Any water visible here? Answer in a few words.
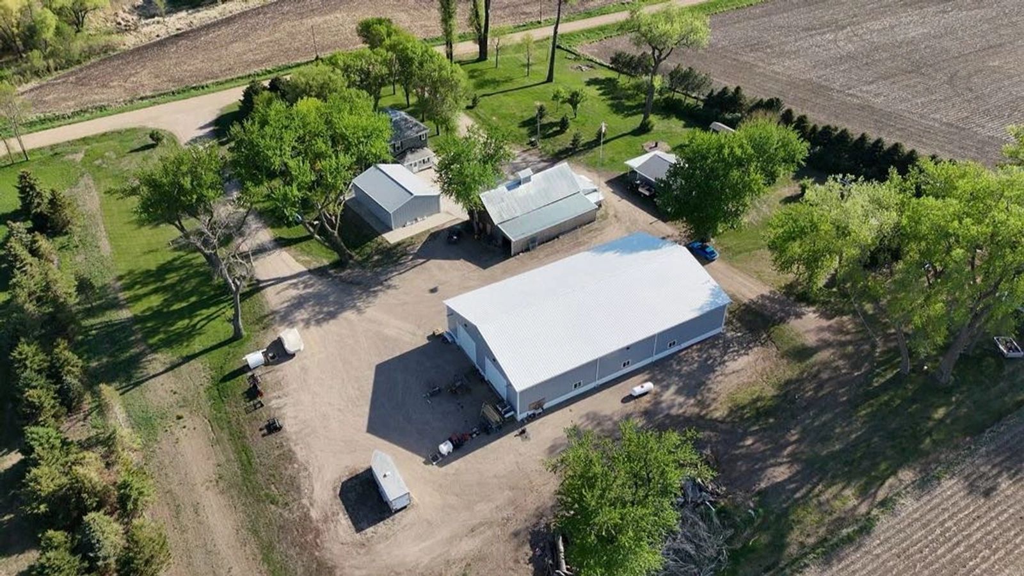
No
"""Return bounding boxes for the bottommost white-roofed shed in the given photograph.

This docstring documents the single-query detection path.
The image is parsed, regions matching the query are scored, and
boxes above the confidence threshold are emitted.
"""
[442,231,733,423]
